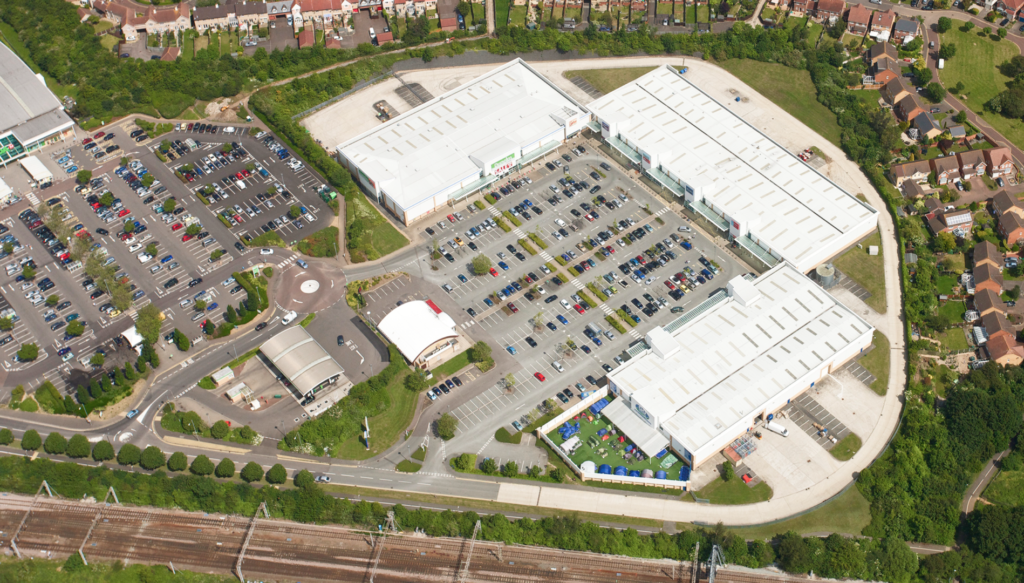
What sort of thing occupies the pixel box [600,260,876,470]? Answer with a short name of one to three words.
building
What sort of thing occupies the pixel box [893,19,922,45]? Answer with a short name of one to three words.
house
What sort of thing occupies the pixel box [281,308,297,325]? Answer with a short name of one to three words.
vehicle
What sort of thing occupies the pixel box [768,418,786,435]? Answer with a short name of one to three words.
vehicle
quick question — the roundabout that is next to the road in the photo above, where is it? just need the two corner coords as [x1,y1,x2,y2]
[273,261,346,312]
